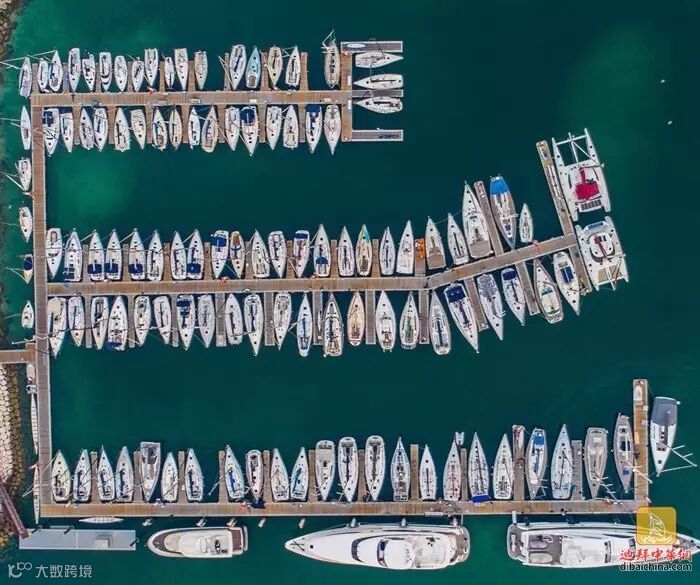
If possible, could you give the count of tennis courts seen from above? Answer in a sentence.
The picture shows no tennis courts.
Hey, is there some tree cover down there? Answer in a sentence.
No, the picture contains no tree cover.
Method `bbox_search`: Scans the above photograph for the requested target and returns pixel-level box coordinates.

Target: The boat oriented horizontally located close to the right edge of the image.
[505,506,700,567]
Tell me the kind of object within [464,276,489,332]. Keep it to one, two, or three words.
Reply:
pier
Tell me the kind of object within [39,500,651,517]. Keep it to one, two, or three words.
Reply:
pier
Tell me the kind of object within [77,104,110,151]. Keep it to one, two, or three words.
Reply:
boat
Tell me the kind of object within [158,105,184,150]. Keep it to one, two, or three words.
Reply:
boat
